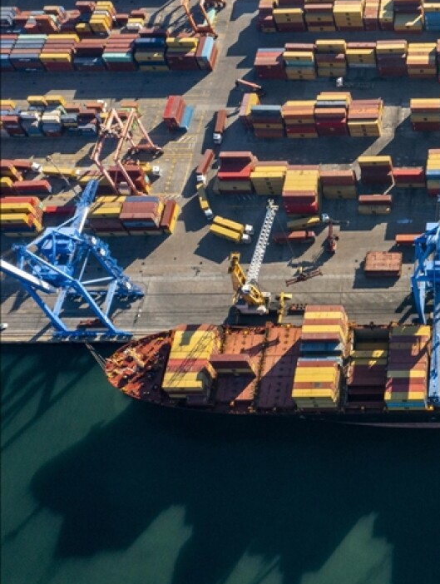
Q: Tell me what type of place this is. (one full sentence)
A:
The picture captures a port.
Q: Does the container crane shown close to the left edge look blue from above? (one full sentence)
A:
Yes, the container crane shown close to the left edge is indeed blue.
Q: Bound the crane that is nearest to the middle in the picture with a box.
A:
[214,200,322,325]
